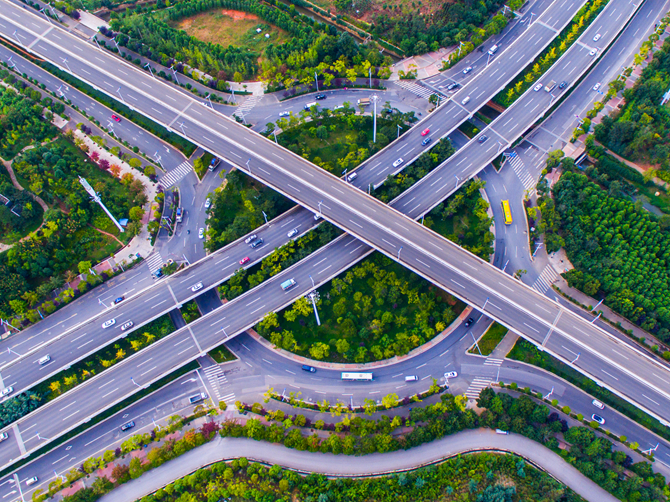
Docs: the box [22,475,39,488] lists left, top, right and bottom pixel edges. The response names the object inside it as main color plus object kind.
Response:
white vehicle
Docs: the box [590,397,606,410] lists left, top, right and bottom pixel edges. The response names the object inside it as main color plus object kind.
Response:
white vehicle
